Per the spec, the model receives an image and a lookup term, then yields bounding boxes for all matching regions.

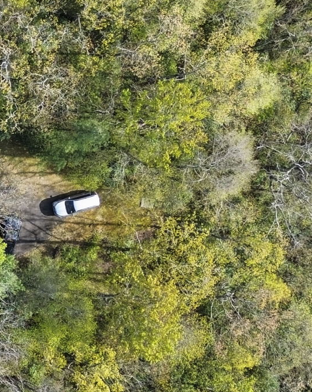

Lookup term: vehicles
[52,193,103,217]
[0,215,25,268]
